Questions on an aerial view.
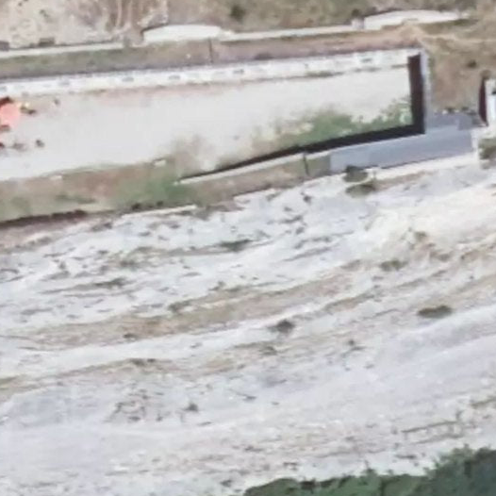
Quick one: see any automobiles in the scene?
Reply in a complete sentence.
No, the scene contains no automobile.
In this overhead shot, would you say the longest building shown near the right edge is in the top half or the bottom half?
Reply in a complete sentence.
The longest building shown near the right edge sits in the top half of the picture.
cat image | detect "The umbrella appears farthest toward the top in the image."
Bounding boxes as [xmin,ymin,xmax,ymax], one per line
[0,100,20,125]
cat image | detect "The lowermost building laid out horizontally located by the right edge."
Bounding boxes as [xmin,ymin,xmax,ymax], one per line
[330,125,473,173]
